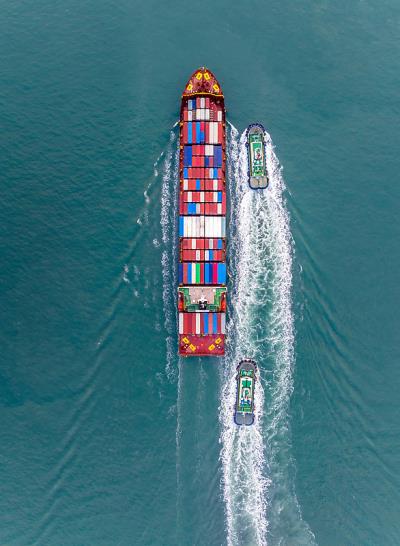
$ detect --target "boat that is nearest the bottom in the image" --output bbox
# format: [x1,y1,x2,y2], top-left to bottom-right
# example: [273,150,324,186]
[234,359,257,424]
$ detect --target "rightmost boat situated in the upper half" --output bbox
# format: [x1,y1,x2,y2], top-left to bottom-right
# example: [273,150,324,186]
[246,122,269,189]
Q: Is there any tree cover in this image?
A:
No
